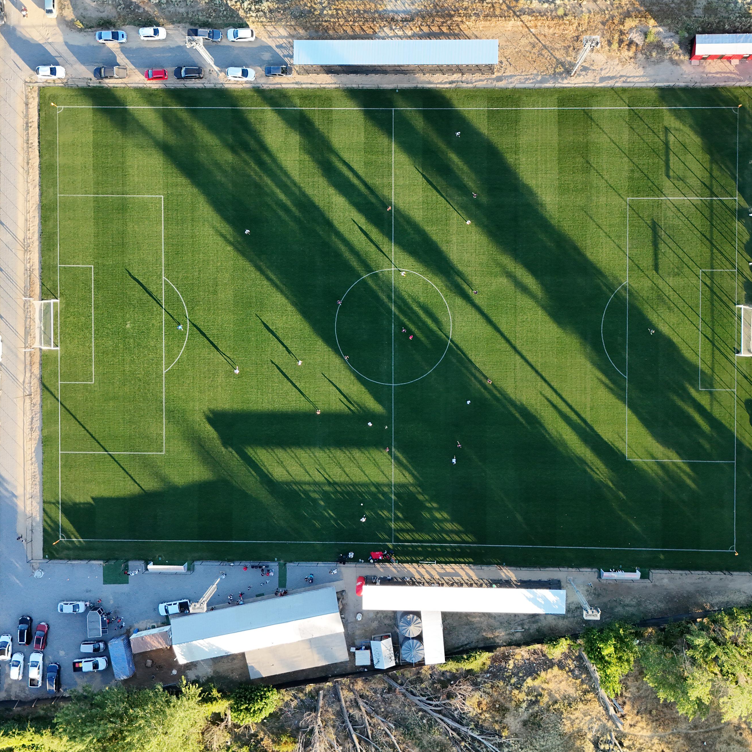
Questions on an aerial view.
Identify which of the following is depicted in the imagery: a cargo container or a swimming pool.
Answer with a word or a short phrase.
cargo container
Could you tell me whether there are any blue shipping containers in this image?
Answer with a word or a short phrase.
Yes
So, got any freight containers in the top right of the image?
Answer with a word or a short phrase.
No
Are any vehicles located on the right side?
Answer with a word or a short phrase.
No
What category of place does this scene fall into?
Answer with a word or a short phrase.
sports ground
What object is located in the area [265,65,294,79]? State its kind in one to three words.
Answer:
vehicle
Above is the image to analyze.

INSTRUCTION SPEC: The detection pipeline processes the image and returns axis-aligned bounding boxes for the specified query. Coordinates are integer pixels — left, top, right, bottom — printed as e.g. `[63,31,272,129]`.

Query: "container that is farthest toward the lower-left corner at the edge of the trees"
[108,631,137,680]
